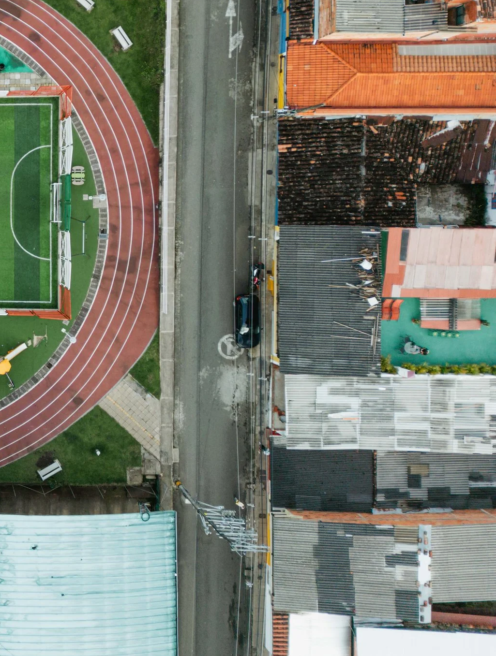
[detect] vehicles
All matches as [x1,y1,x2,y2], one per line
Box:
[233,295,263,348]
[253,262,268,289]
